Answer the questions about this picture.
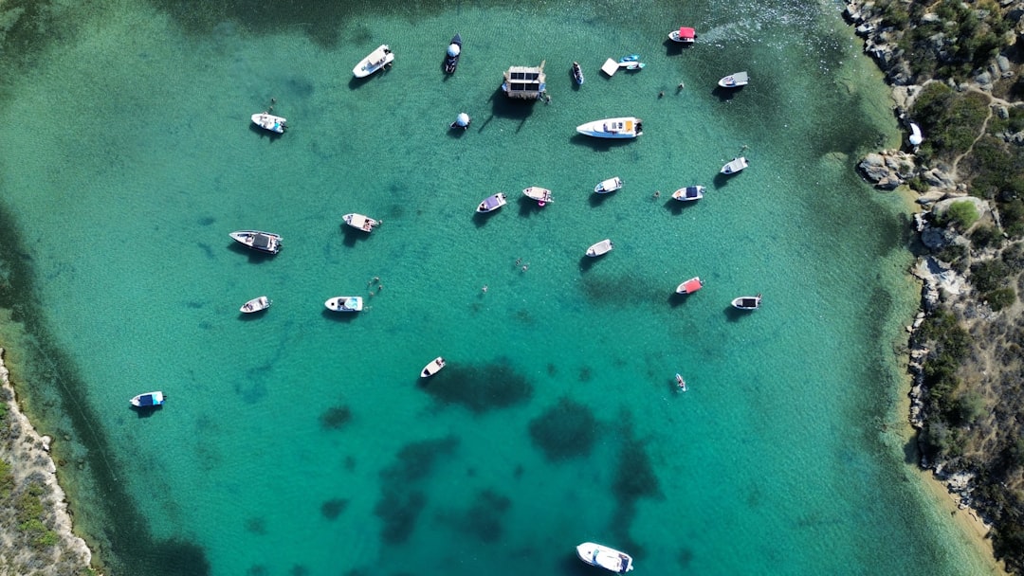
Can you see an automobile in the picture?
No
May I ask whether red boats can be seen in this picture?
Yes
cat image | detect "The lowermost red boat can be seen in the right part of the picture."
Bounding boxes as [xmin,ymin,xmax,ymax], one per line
[676,277,704,294]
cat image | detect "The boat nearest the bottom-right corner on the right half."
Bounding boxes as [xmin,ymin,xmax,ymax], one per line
[731,296,762,309]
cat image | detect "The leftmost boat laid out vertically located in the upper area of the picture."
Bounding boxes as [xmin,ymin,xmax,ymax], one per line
[444,34,461,76]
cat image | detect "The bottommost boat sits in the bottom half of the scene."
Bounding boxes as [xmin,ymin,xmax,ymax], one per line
[576,543,635,575]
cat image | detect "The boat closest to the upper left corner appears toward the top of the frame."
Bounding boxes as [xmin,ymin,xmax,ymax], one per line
[251,111,287,132]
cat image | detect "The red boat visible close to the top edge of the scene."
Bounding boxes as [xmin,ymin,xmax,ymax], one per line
[668,28,698,46]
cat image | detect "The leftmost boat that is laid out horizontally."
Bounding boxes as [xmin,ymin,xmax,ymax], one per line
[131,391,169,406]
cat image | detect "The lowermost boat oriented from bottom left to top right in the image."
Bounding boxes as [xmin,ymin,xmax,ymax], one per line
[421,356,447,377]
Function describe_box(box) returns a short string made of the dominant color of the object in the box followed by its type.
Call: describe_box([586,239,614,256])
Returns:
white boat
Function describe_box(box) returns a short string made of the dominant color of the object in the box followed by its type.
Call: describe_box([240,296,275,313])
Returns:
white boat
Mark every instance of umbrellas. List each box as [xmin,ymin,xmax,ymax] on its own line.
[457,115,468,126]
[447,41,459,53]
